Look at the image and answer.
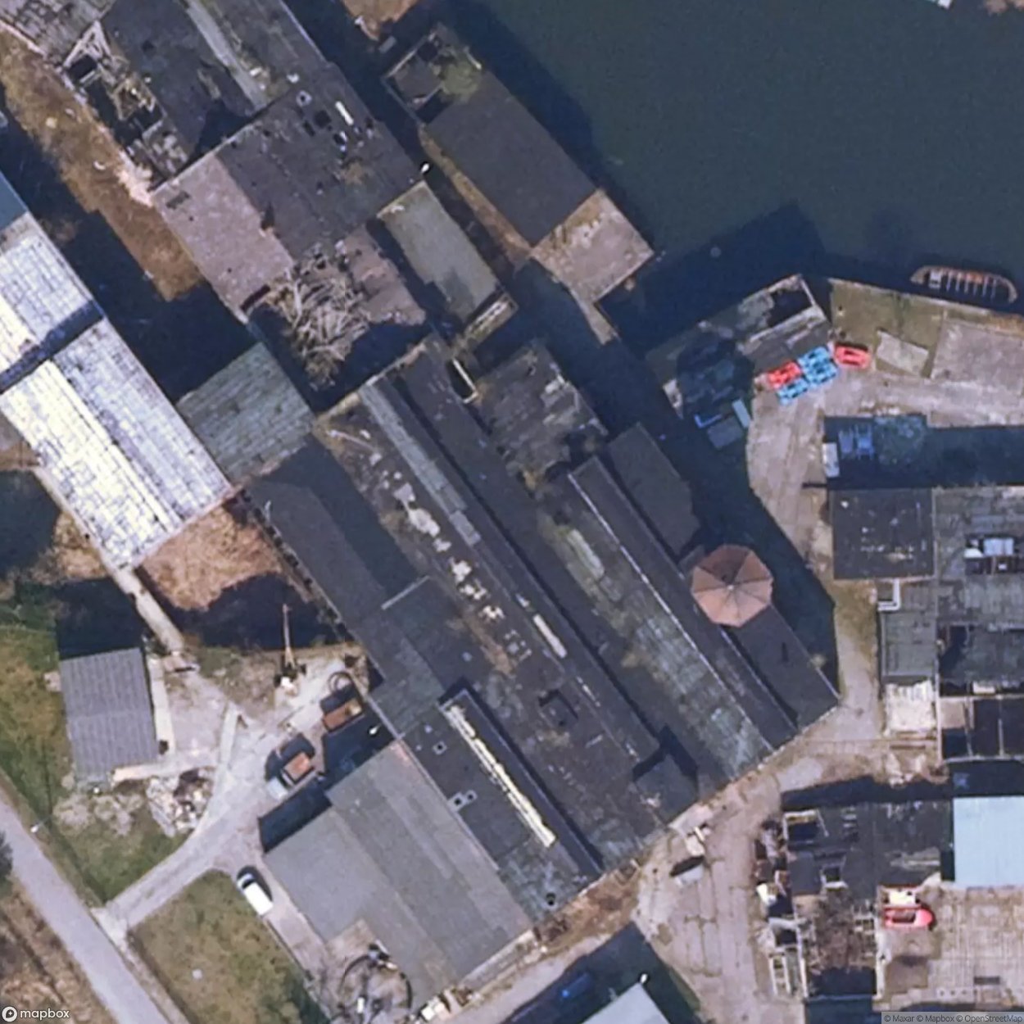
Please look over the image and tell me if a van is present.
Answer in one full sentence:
Yes, the photo shows a van.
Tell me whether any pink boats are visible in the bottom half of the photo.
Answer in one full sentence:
Yes, a pink boat can be seen in the bottom half of the photo.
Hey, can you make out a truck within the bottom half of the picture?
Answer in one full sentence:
Yes, a truck is visible within the bottom half of the picture.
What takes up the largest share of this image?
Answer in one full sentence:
What you mostly see from above here is buildings.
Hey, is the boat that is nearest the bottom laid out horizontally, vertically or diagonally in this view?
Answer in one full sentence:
The boat that is nearest the bottom is laid out horizontally.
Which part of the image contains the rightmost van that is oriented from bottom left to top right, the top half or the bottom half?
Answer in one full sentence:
Seen from above, the rightmost van that is oriented from bottom left to top right lies in the bottom half of the view.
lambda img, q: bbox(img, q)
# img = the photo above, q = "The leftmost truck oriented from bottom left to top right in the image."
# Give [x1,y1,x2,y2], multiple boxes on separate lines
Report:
[264,753,318,797]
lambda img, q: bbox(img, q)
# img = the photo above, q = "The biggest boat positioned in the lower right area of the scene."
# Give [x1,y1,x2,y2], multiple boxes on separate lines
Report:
[885,908,935,929]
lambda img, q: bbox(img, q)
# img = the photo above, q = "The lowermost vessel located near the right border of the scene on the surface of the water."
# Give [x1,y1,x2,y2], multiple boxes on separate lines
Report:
[913,266,1014,313]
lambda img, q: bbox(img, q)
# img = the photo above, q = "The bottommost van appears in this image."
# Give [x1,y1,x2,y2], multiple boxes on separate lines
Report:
[556,960,610,1004]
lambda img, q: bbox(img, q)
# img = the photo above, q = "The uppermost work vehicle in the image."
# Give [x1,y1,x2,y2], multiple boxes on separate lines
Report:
[272,598,310,694]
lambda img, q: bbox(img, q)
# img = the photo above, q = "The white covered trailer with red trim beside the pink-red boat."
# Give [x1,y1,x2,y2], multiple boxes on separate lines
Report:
[884,886,922,906]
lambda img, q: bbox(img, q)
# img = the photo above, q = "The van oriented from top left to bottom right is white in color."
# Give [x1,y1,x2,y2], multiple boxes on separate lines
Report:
[233,865,275,920]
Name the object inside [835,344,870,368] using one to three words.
boat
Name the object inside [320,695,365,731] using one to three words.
trailer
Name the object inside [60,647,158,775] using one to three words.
shed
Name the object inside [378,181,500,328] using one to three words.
building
